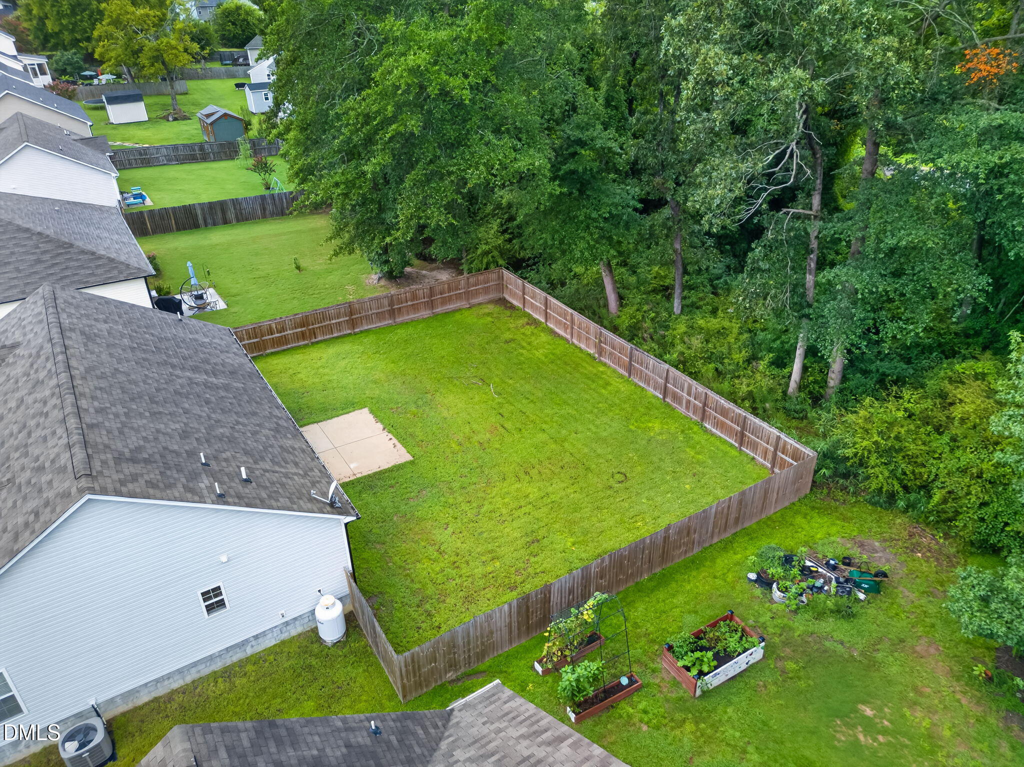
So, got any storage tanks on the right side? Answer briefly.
No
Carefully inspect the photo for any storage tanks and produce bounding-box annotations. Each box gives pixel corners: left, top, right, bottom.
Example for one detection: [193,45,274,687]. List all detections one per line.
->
[313,595,349,654]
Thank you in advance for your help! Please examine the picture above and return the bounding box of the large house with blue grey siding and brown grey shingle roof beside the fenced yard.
[0,283,368,767]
